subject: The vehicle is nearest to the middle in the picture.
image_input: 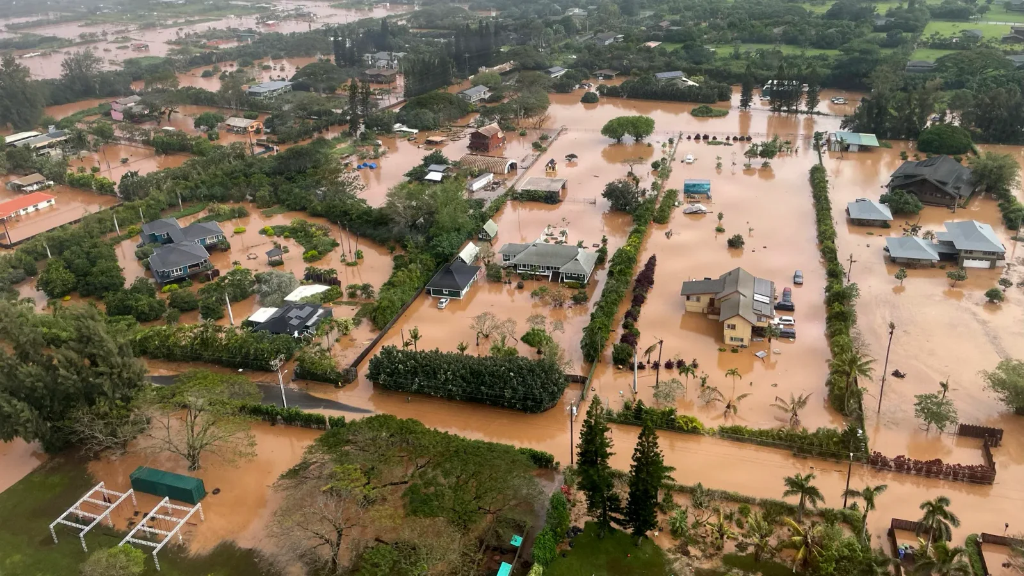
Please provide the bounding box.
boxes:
[436,298,451,310]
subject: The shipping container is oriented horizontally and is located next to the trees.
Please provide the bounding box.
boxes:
[130,466,206,501]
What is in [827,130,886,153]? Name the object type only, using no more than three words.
shed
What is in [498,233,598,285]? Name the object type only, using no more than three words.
house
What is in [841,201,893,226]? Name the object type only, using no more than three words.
building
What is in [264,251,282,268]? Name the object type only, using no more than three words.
gazebo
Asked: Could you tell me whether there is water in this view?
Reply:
Yes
